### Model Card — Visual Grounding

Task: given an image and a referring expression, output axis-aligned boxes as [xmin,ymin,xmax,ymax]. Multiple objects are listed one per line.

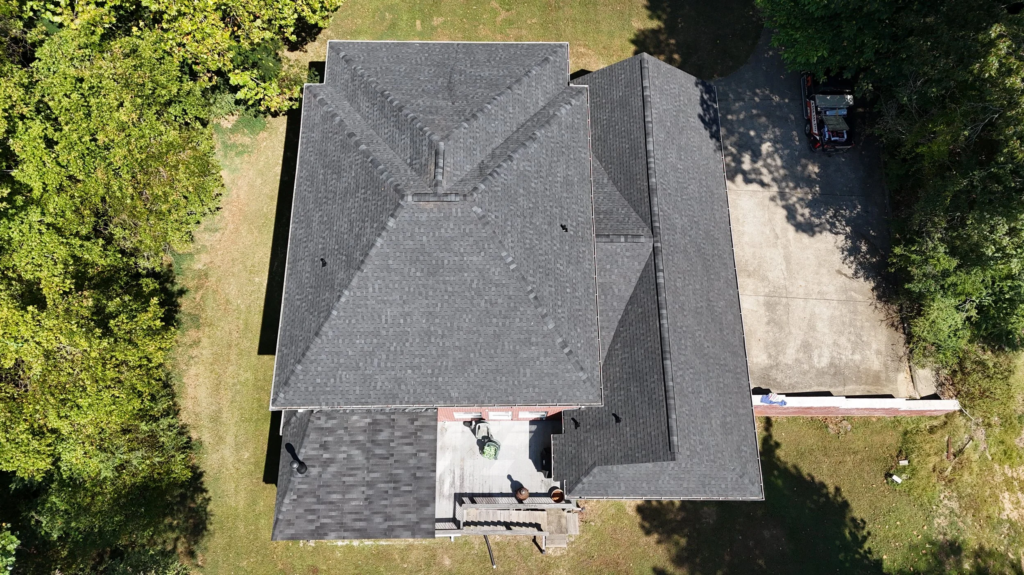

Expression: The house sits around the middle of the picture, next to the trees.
[269,40,764,542]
